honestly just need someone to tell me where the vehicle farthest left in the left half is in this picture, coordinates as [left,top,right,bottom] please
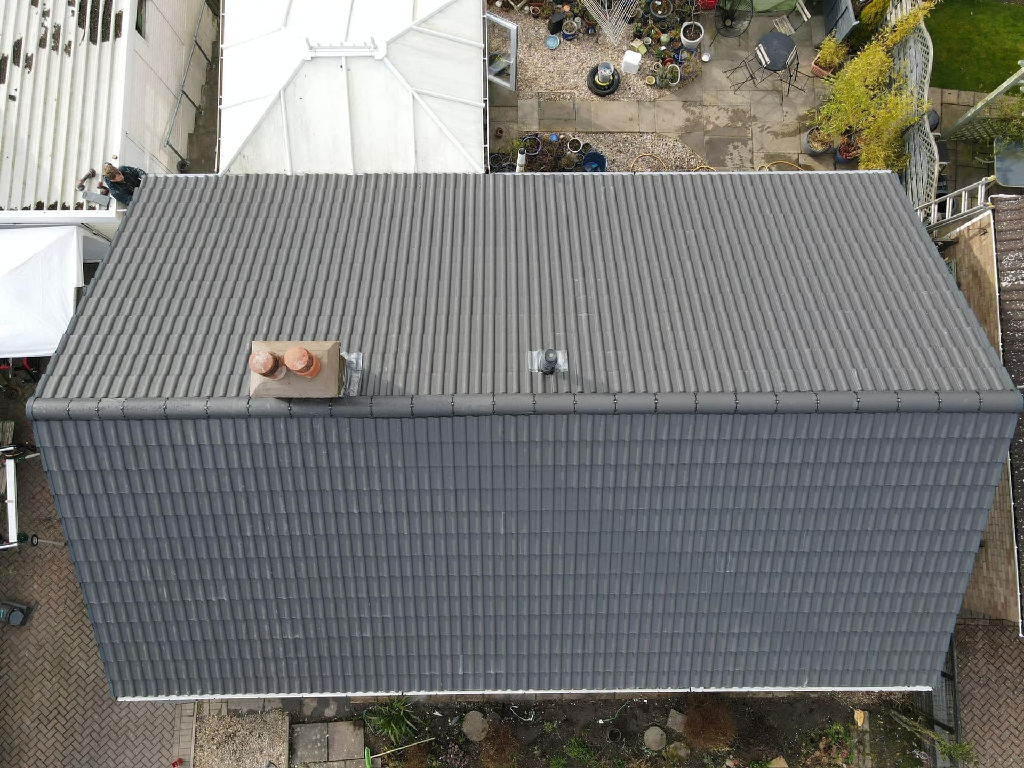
[15,353,39,383]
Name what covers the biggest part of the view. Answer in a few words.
buildings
